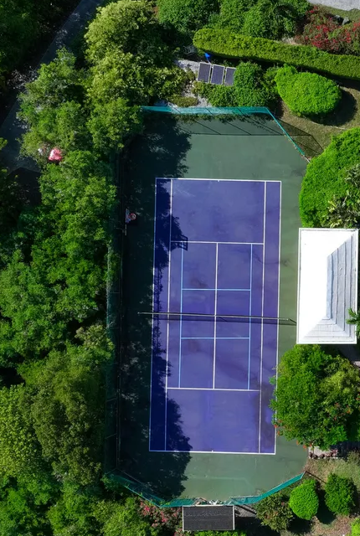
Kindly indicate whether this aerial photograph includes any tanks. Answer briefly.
No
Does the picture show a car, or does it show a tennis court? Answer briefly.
tennis court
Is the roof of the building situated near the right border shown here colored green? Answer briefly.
No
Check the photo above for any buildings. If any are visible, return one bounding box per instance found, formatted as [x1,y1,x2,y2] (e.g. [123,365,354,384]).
[181,499,240,532]
[295,227,360,345]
